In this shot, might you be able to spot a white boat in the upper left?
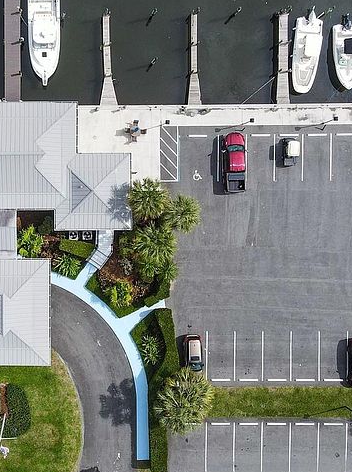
Yes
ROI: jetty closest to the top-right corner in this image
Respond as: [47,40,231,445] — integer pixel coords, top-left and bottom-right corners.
[271,8,297,105]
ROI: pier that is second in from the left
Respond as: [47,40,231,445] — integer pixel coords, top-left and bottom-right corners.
[99,9,118,105]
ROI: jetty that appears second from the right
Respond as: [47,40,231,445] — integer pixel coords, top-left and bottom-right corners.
[185,9,205,105]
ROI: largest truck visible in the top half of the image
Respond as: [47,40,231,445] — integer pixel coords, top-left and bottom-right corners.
[222,132,248,194]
